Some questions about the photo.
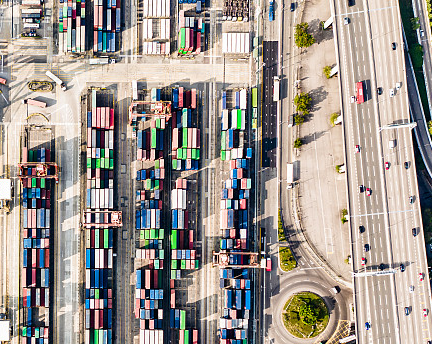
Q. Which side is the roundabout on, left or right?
right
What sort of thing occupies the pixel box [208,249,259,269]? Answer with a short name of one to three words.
container crane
